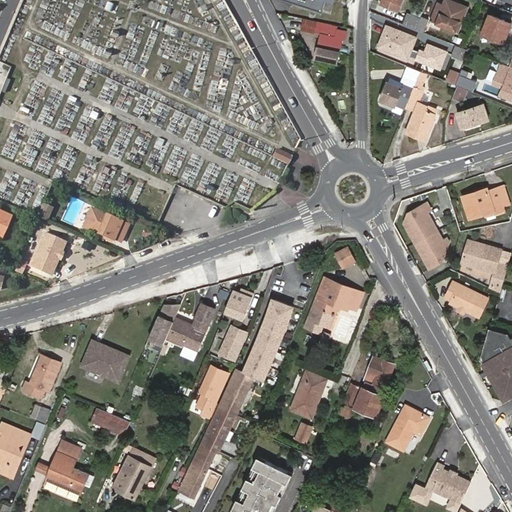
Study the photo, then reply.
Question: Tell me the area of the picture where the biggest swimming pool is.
left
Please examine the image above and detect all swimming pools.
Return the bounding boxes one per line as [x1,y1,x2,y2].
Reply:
[481,82,500,96]
[63,196,85,226]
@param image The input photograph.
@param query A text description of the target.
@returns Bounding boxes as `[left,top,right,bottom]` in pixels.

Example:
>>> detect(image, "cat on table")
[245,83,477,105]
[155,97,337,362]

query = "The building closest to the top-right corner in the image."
[480,15,512,46]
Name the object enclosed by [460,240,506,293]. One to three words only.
house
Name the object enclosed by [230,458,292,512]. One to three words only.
building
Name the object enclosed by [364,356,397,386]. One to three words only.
house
